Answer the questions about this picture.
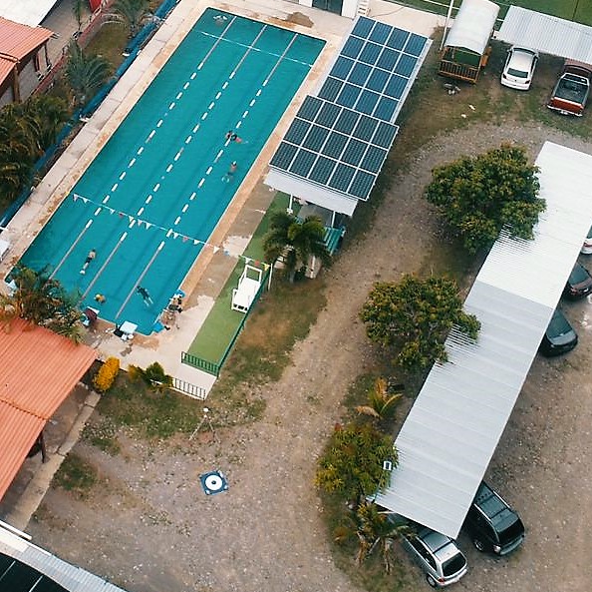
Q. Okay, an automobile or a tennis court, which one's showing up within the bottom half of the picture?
automobile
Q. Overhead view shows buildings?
Yes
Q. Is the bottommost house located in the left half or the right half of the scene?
left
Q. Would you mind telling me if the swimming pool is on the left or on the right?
left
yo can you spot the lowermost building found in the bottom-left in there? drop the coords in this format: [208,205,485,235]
[0,515,125,592]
